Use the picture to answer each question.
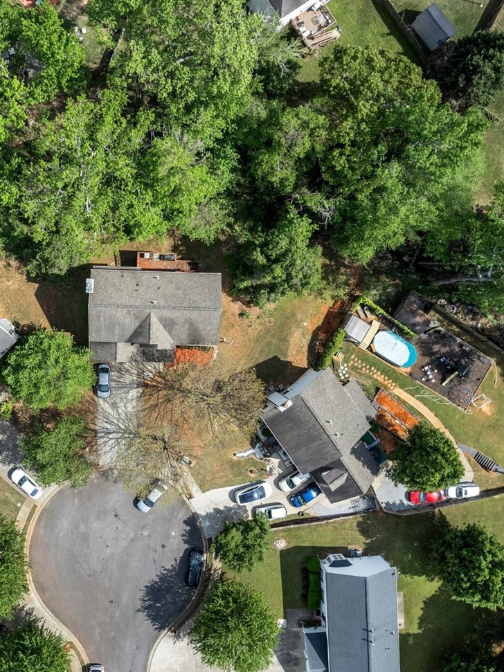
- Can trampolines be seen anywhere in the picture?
Yes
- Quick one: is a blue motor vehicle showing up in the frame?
Yes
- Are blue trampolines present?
No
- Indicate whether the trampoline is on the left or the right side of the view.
right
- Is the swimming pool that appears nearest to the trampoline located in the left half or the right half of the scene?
right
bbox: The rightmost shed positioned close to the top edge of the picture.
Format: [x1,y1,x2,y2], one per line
[409,3,456,54]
